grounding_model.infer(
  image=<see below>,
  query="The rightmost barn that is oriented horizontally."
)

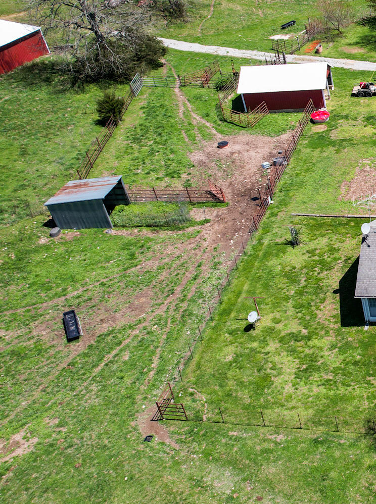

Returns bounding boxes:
[234,64,340,112]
